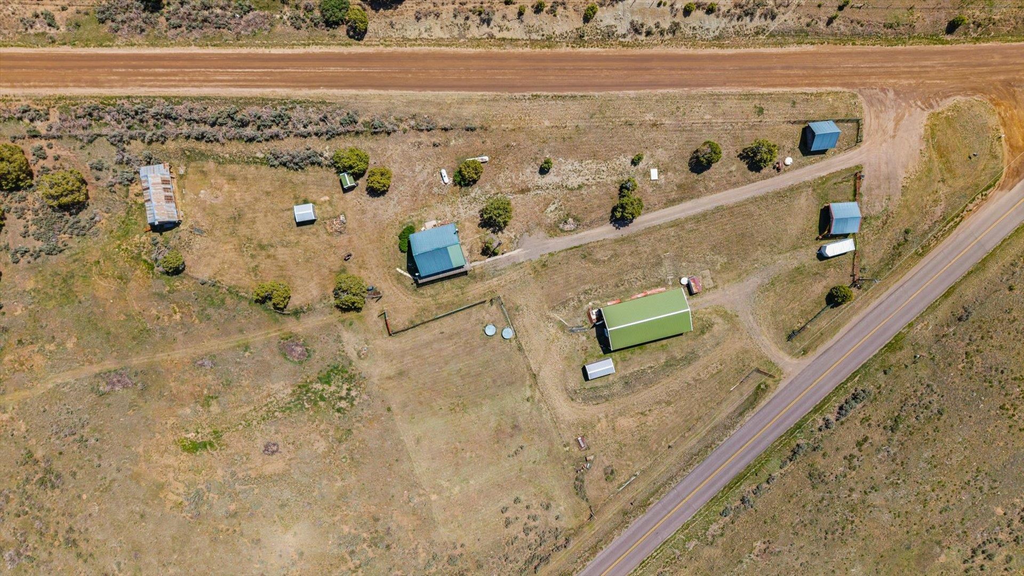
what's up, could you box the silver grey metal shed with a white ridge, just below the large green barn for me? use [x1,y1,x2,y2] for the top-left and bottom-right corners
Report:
[586,359,615,379]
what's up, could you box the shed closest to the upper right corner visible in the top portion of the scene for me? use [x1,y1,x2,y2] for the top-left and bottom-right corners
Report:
[803,119,841,153]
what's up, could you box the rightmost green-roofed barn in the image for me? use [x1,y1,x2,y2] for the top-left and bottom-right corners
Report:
[601,287,692,351]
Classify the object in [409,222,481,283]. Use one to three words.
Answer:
house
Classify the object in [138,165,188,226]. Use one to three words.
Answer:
barn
